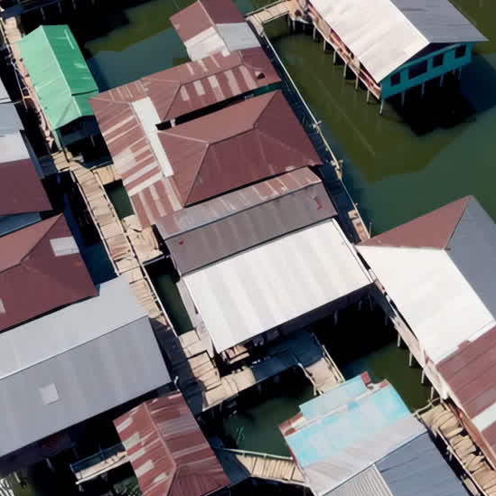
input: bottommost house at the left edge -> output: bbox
[0,273,172,477]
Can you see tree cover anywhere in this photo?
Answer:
No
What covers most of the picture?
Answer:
buildings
